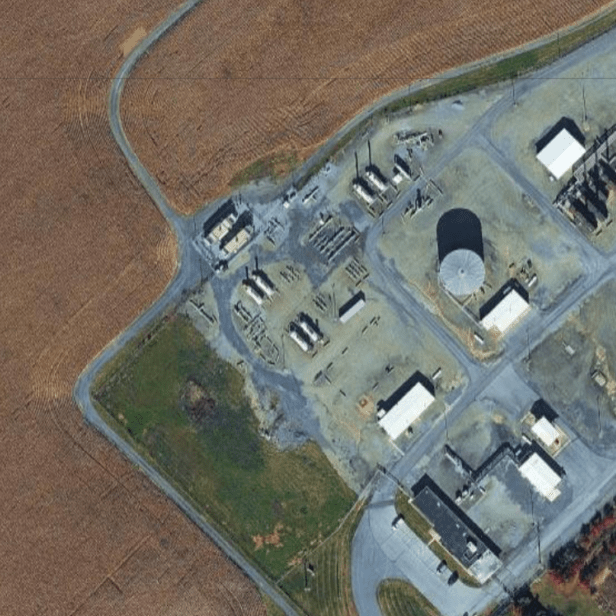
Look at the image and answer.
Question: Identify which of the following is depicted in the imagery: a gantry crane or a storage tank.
storage tank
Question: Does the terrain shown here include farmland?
Yes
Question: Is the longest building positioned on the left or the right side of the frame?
right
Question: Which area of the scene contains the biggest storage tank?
right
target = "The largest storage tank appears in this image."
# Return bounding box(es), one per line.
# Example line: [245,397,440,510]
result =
[437,247,487,297]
